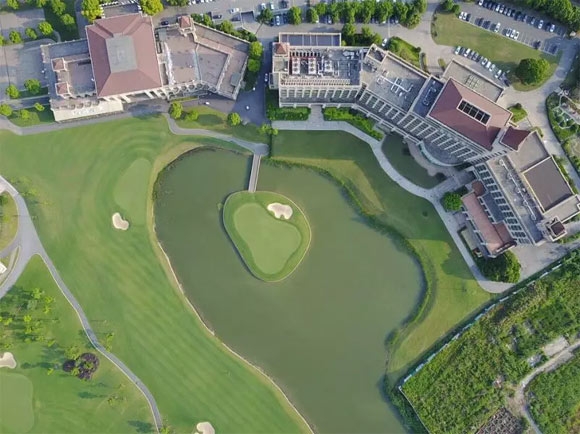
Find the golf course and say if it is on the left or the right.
left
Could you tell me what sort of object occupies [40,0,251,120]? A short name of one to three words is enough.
building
